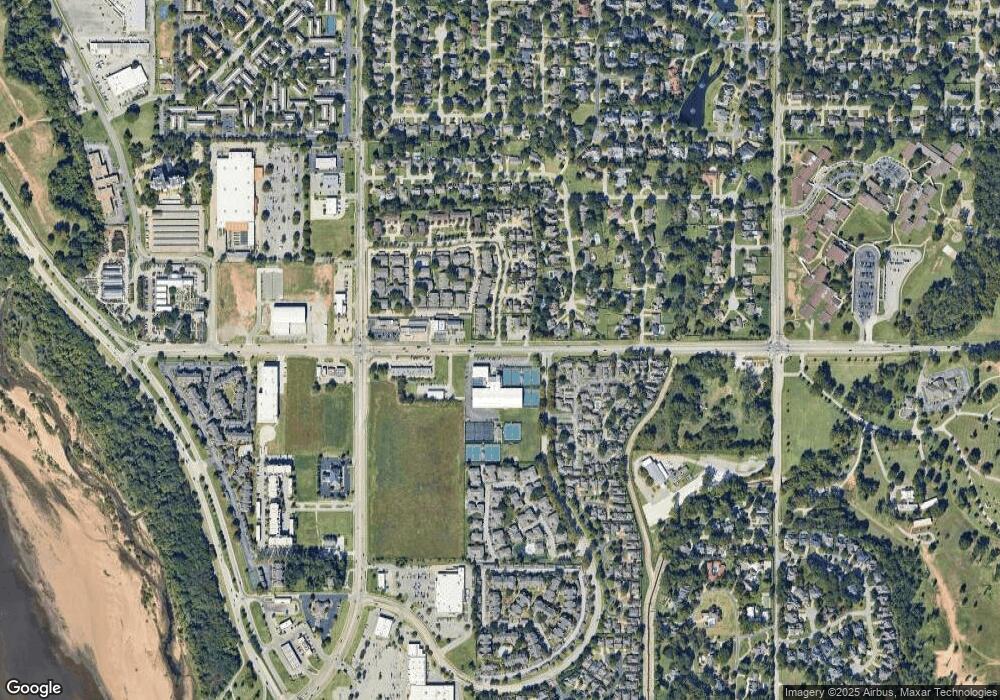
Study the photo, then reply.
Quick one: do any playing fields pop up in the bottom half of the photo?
No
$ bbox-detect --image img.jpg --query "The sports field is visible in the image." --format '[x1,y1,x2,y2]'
[840,206,891,241]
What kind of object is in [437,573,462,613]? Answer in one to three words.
building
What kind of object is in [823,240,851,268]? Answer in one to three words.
building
